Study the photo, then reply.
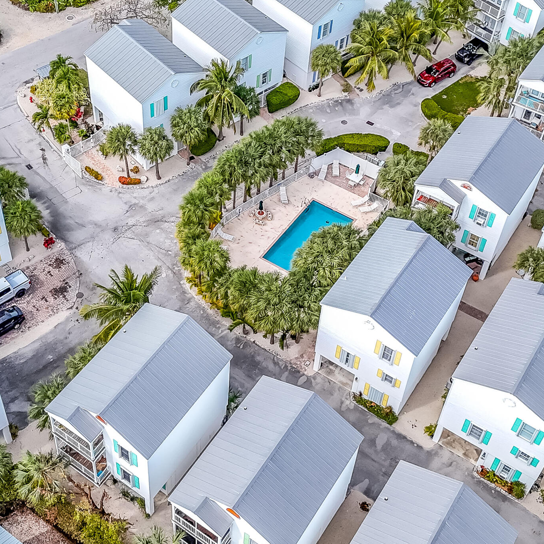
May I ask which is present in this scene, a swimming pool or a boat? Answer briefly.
swimming pool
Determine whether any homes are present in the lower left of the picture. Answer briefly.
Yes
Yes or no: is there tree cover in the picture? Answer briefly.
Yes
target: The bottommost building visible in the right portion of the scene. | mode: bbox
[348,460,517,544]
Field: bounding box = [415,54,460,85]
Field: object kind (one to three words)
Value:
car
